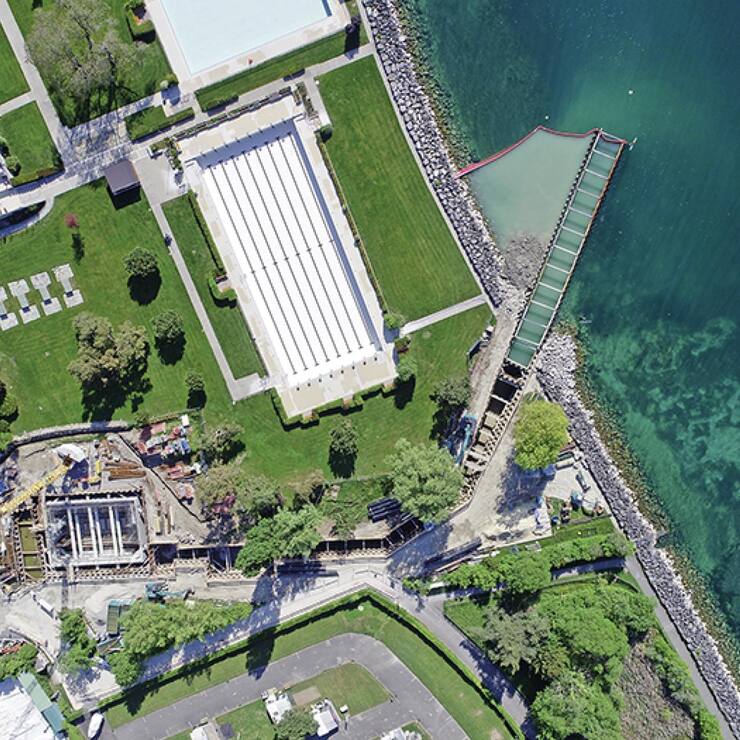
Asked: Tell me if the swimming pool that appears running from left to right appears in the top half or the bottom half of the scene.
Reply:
top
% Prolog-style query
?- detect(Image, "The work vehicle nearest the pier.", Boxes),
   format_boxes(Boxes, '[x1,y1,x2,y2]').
[452,420,476,472]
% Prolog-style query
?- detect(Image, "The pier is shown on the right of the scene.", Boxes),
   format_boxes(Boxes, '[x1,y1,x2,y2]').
[507,129,629,369]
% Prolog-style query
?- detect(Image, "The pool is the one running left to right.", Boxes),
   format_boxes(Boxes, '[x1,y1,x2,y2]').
[158,0,334,79]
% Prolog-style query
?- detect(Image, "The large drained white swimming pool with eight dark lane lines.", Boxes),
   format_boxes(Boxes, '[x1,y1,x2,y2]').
[183,112,386,388]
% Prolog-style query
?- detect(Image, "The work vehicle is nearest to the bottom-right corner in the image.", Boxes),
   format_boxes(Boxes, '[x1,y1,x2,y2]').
[577,473,591,494]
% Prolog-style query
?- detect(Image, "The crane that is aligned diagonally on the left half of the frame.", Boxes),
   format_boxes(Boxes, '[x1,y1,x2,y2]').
[0,458,72,513]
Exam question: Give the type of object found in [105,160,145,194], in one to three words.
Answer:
shed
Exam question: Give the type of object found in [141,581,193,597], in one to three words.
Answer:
work vehicle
